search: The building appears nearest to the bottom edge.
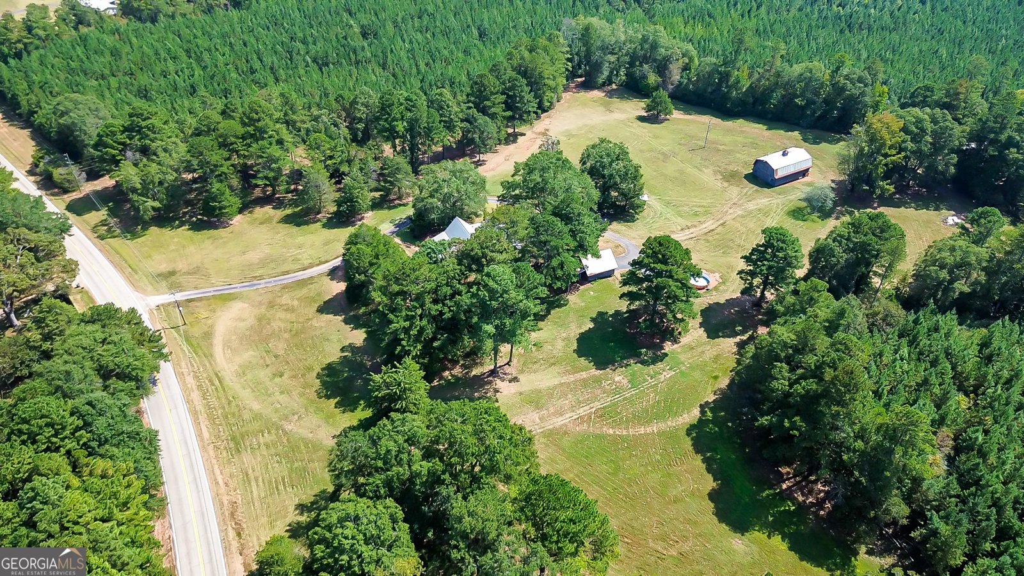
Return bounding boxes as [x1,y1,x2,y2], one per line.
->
[565,251,619,282]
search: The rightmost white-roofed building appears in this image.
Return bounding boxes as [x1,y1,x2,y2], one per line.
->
[748,146,812,186]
